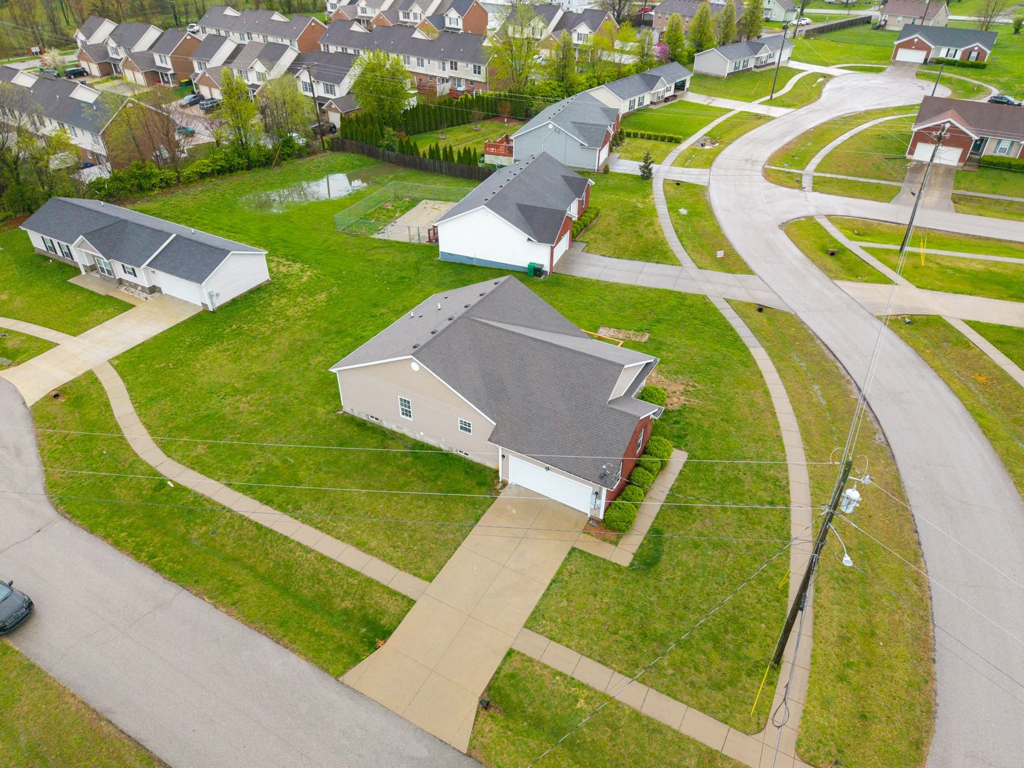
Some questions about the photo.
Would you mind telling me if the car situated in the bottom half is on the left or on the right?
left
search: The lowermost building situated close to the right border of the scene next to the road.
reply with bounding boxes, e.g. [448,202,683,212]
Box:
[879,95,1024,170]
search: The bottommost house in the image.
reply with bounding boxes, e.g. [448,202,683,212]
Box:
[327,276,669,521]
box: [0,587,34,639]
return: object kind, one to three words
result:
car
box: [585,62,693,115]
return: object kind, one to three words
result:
house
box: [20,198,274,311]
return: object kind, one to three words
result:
house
